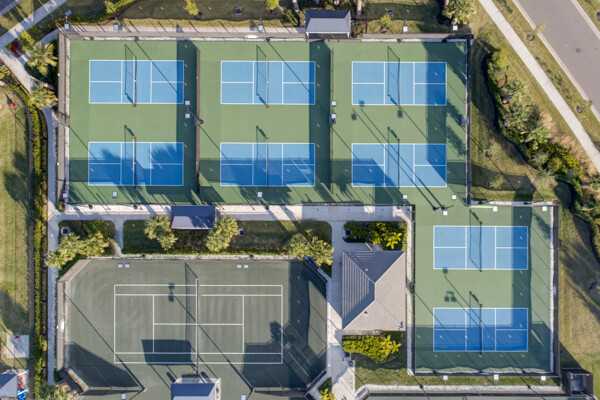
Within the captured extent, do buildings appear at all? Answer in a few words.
Yes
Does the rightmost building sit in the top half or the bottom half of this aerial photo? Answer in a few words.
bottom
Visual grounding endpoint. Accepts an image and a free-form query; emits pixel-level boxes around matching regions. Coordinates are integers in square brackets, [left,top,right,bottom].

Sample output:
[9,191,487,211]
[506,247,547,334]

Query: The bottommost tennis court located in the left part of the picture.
[70,257,327,400]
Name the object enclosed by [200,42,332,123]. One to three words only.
sports court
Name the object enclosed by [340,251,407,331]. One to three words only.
building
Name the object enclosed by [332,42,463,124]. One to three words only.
sports court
